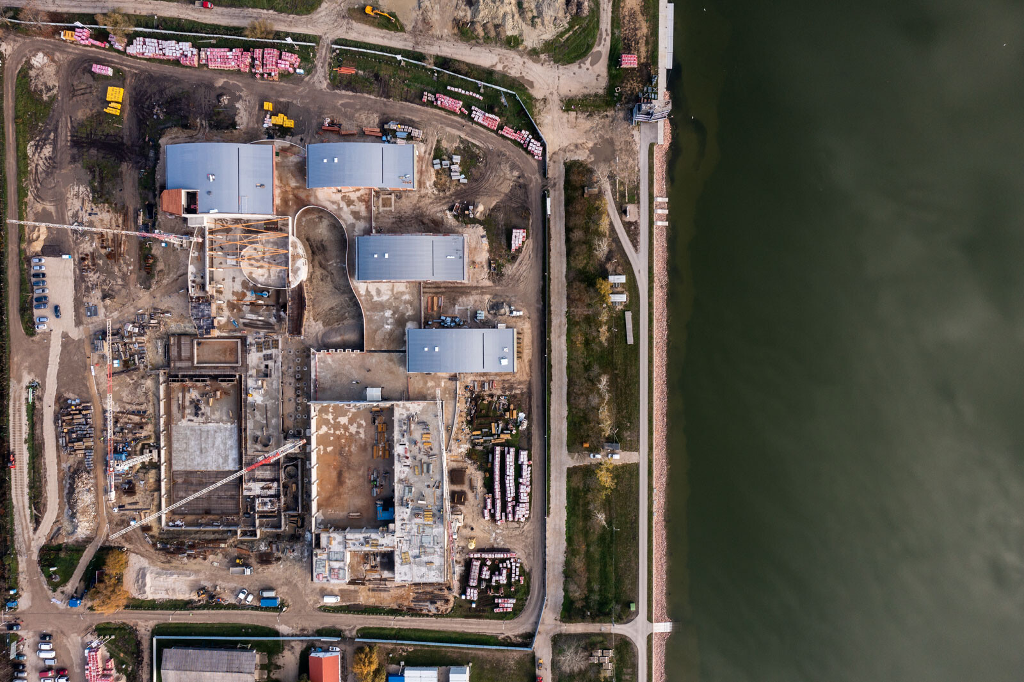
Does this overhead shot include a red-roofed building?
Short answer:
Yes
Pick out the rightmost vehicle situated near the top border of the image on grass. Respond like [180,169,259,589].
[364,6,400,24]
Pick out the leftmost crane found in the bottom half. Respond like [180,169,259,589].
[103,320,161,499]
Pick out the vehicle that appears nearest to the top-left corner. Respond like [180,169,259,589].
[58,30,78,42]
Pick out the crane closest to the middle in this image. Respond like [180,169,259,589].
[436,388,468,580]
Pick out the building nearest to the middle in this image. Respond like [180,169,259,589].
[406,329,516,373]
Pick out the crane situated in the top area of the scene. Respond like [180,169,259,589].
[7,219,203,254]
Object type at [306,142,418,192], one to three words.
building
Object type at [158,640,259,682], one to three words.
shed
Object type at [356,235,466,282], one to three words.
building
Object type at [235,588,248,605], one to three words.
vehicle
